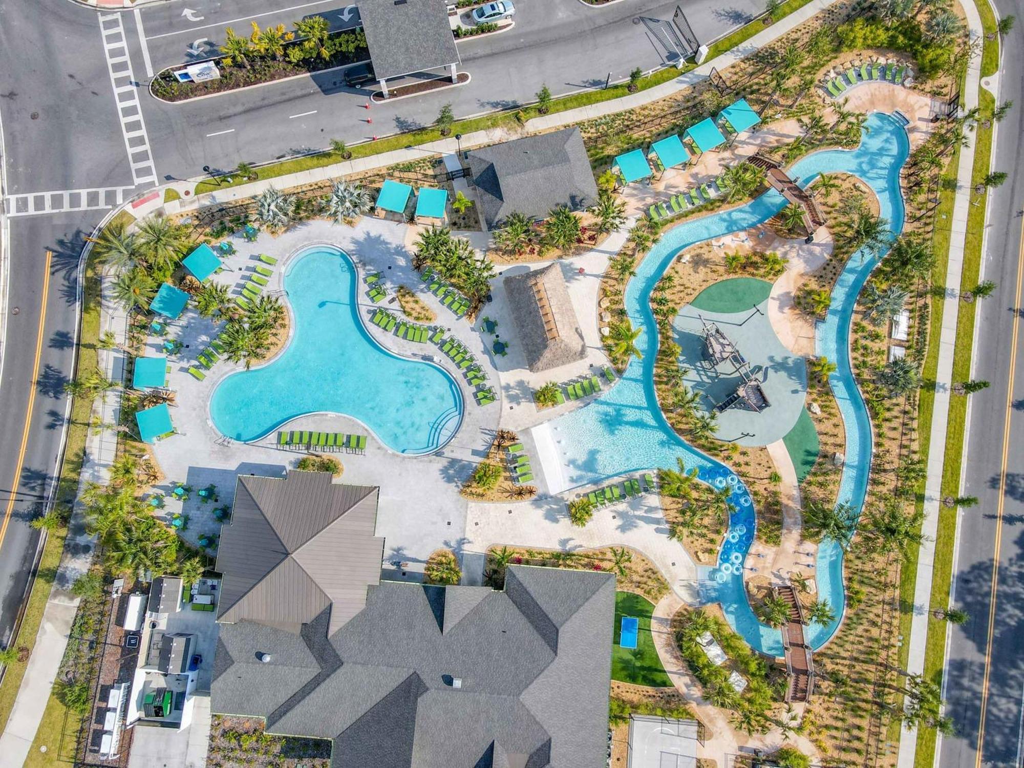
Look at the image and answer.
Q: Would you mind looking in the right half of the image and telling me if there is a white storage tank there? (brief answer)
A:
No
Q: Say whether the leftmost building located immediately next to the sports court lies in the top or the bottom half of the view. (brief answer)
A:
bottom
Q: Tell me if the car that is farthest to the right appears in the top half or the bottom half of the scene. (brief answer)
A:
top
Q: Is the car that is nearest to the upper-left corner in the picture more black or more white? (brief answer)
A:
black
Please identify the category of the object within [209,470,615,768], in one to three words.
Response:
building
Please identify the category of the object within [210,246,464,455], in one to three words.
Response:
swimming pool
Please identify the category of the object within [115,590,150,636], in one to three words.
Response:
storage tank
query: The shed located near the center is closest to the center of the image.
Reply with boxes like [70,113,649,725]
[503,262,589,374]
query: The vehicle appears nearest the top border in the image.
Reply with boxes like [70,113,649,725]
[469,0,517,26]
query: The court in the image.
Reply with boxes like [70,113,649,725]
[630,718,697,768]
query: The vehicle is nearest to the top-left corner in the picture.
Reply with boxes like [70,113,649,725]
[342,60,377,89]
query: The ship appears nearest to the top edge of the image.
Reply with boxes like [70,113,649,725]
[695,314,741,376]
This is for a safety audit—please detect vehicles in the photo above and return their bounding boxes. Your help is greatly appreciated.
[342,60,377,89]
[469,0,517,26]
